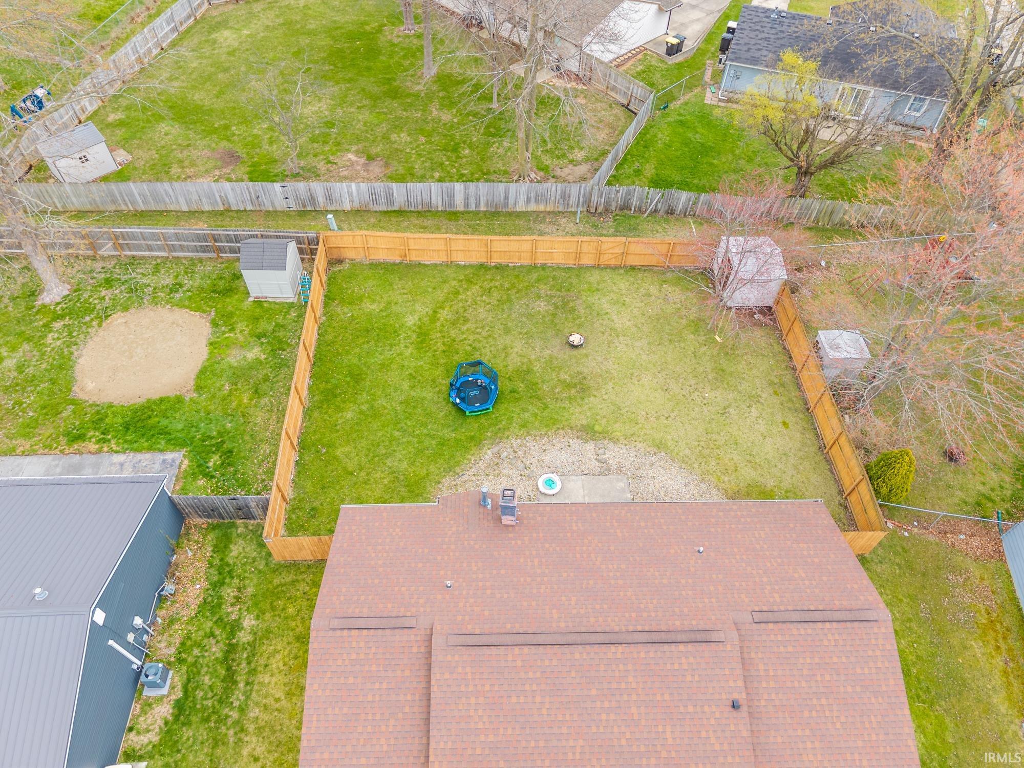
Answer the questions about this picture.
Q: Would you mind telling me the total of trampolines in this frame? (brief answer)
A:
1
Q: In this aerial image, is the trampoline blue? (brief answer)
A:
Yes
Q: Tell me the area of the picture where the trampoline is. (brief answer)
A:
center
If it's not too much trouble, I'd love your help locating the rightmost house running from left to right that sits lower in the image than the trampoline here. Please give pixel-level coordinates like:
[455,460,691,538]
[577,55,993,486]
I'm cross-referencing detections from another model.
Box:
[300,483,926,768]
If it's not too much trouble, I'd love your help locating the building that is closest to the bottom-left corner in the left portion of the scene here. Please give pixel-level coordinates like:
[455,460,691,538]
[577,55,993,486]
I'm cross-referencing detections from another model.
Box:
[0,472,187,768]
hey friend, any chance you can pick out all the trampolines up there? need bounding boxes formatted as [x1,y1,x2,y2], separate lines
[450,361,498,419]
